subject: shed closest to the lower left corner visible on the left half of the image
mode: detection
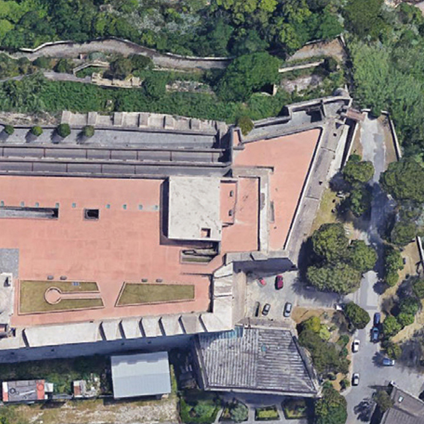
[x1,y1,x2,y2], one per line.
[3,380,53,404]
